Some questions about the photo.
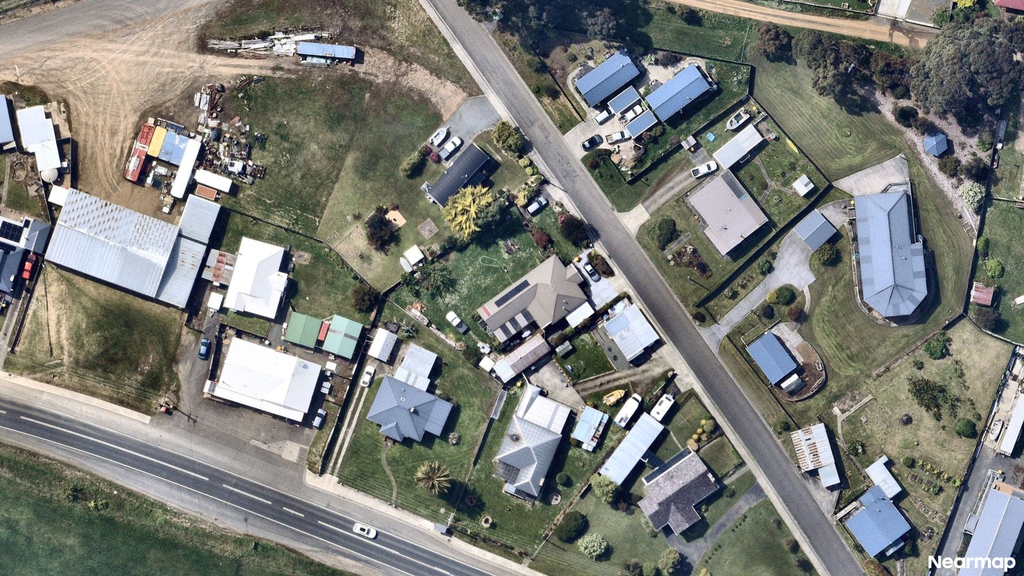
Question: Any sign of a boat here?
Yes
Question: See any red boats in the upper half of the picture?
No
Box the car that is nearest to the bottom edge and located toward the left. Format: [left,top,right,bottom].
[351,523,378,540]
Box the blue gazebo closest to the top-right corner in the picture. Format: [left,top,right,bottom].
[925,133,948,156]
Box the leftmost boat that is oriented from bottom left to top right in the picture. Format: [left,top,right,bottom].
[429,127,447,147]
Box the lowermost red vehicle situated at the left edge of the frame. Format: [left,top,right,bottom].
[20,253,37,279]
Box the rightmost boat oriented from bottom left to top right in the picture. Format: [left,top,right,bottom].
[726,108,750,130]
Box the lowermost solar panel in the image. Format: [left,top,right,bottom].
[494,280,530,308]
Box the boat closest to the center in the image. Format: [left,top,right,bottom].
[400,257,413,273]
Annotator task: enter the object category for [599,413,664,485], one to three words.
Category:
shed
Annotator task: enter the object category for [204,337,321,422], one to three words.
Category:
building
